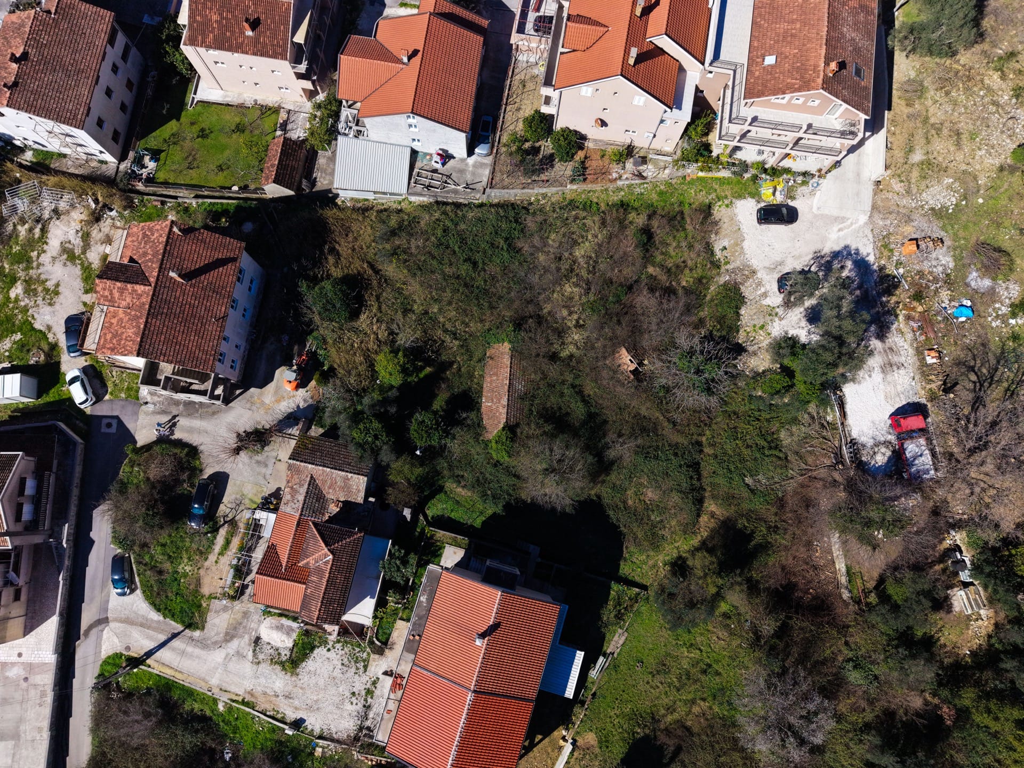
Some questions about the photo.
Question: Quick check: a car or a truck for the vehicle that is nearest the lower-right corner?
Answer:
truck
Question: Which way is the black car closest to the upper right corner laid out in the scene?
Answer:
from left to right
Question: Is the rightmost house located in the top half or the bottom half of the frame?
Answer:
top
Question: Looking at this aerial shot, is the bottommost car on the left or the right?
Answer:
left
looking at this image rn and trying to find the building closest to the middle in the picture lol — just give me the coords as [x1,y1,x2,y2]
[481,344,523,435]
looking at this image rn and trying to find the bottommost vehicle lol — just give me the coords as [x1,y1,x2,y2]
[108,553,134,596]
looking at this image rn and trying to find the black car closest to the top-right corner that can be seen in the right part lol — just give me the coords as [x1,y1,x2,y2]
[756,205,797,226]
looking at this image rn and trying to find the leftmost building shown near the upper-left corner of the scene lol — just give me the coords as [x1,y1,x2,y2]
[0,0,145,159]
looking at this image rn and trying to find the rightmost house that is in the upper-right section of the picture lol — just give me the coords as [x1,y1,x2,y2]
[694,0,880,160]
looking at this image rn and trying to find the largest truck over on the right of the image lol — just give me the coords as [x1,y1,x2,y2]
[888,414,940,483]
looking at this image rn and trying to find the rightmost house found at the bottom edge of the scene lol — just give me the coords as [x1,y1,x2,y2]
[368,543,585,768]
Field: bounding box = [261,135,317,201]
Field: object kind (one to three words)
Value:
shed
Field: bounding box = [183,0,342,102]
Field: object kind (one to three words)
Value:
house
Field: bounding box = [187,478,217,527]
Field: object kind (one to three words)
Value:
car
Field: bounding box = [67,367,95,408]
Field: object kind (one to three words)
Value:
car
